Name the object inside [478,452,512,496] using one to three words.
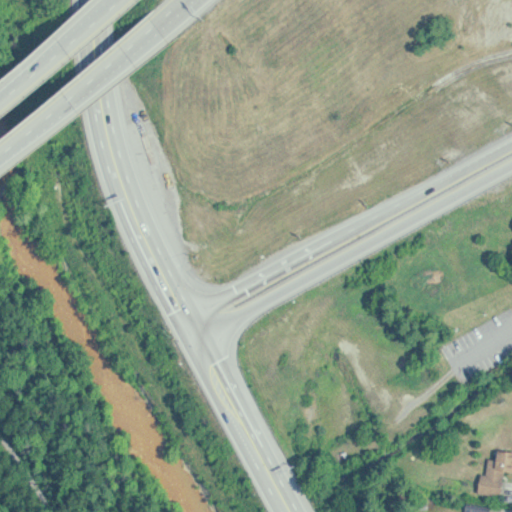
house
